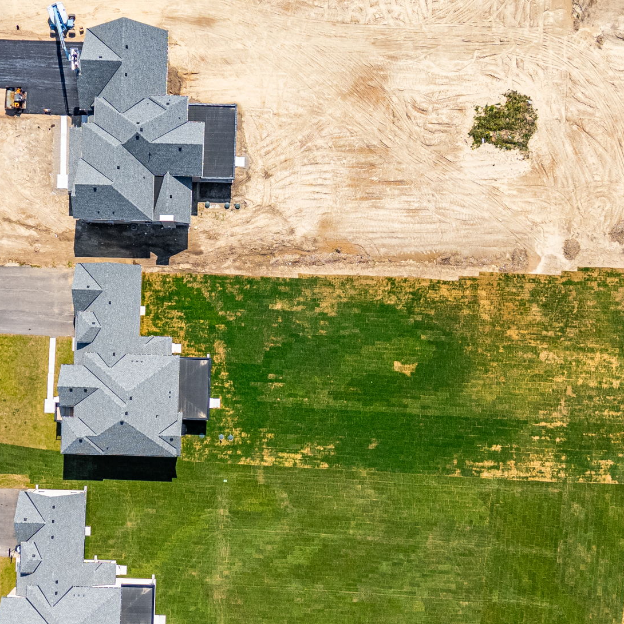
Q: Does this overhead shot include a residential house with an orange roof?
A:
No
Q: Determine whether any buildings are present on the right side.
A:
No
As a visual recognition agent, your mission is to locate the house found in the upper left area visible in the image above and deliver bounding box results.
[68,16,245,232]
